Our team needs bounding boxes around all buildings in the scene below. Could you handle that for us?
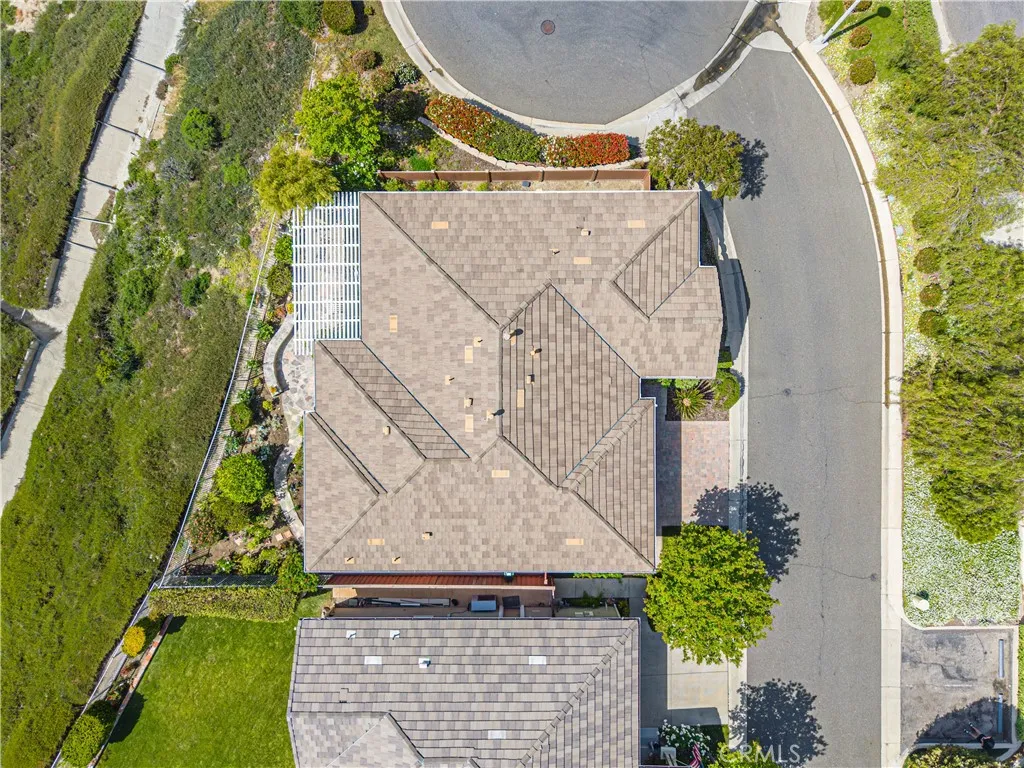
[286,603,702,768]
[303,191,722,574]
